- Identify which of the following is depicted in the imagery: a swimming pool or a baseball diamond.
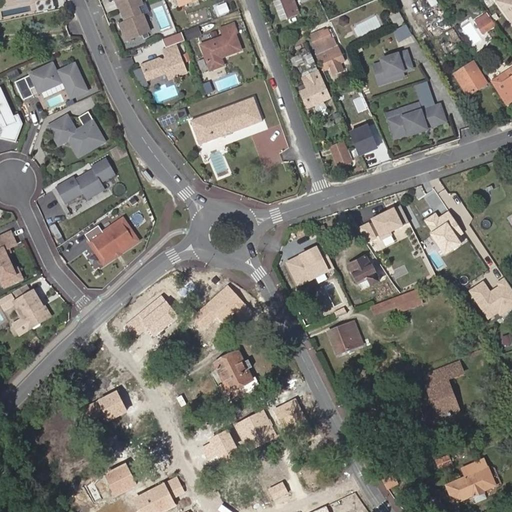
swimming pool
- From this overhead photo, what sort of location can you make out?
residential area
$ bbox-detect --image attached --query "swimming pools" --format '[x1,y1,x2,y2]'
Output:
[2,5,32,18]
[45,94,65,109]
[152,4,172,30]
[152,84,180,104]
[323,283,338,299]
[208,148,231,178]
[214,74,240,94]
[131,212,145,226]
[430,248,446,270]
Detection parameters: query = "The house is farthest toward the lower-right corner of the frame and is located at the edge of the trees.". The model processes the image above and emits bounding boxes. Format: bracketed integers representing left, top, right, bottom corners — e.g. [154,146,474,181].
[446,458,496,505]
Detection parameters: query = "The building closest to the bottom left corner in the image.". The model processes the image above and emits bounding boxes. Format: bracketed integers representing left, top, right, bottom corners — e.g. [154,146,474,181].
[105,463,139,496]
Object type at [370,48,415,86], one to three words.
house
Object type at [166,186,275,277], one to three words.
roundabout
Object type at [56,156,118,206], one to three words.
house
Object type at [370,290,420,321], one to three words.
shed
